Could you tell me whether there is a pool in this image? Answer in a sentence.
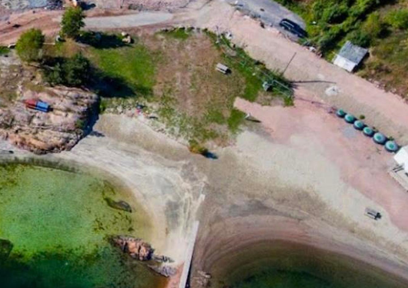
No, the photo shows no pool.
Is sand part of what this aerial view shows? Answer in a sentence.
Yes, there's sand in this view.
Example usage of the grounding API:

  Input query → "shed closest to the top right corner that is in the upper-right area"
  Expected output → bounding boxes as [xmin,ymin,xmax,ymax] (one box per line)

[329,41,369,79]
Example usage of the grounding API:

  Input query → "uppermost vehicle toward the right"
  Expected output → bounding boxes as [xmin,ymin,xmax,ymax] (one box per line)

[275,13,310,40]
